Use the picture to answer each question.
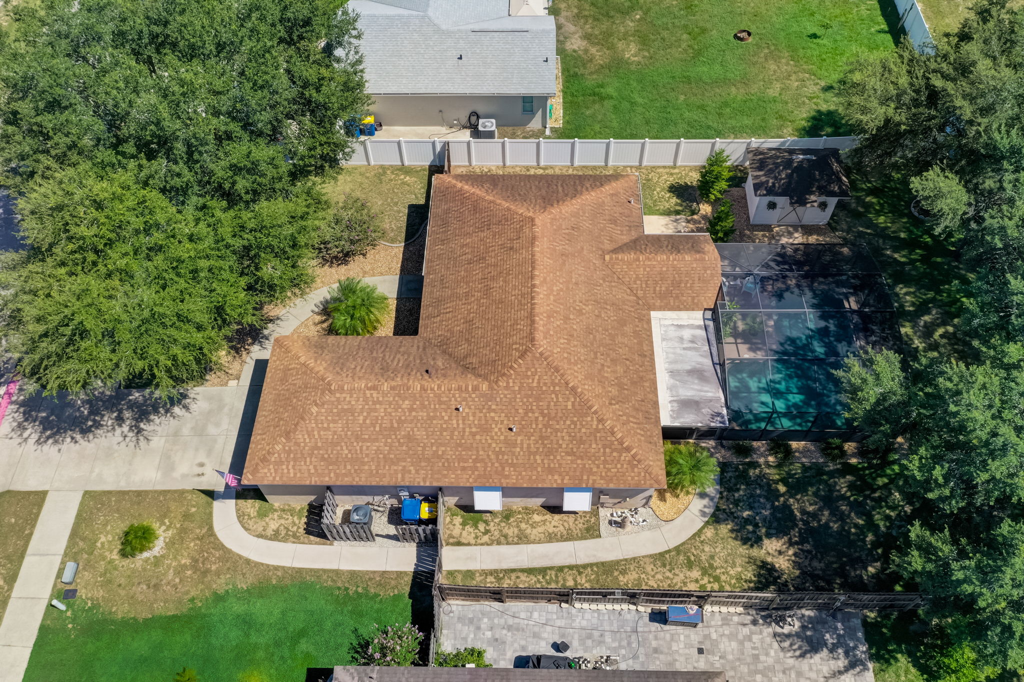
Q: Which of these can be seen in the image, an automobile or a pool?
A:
pool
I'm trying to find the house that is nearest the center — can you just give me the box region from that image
[241,172,731,512]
